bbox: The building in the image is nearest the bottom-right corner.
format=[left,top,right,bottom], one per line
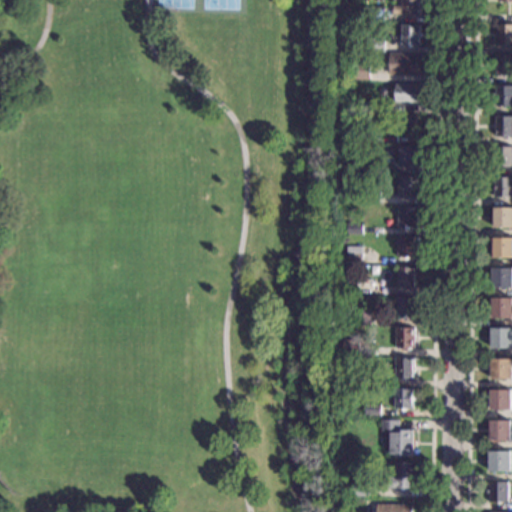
[496,482,510,506]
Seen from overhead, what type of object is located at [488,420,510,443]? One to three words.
house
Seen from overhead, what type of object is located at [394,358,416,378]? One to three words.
house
